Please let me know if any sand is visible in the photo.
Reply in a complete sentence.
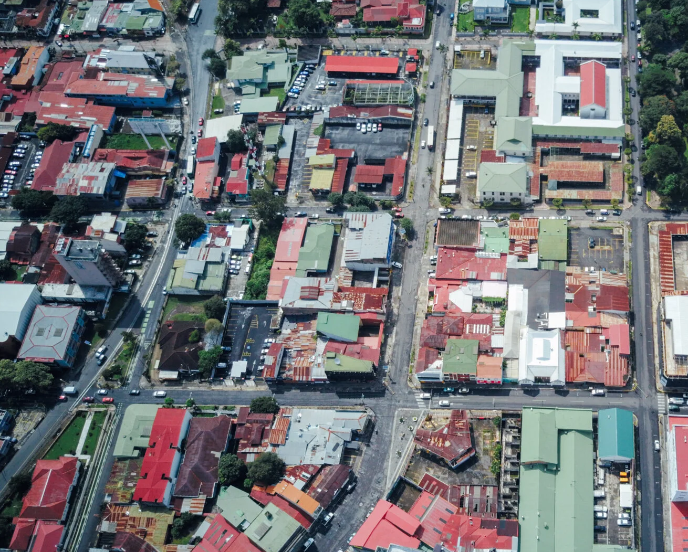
No, sand can't be seen anywhere here.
